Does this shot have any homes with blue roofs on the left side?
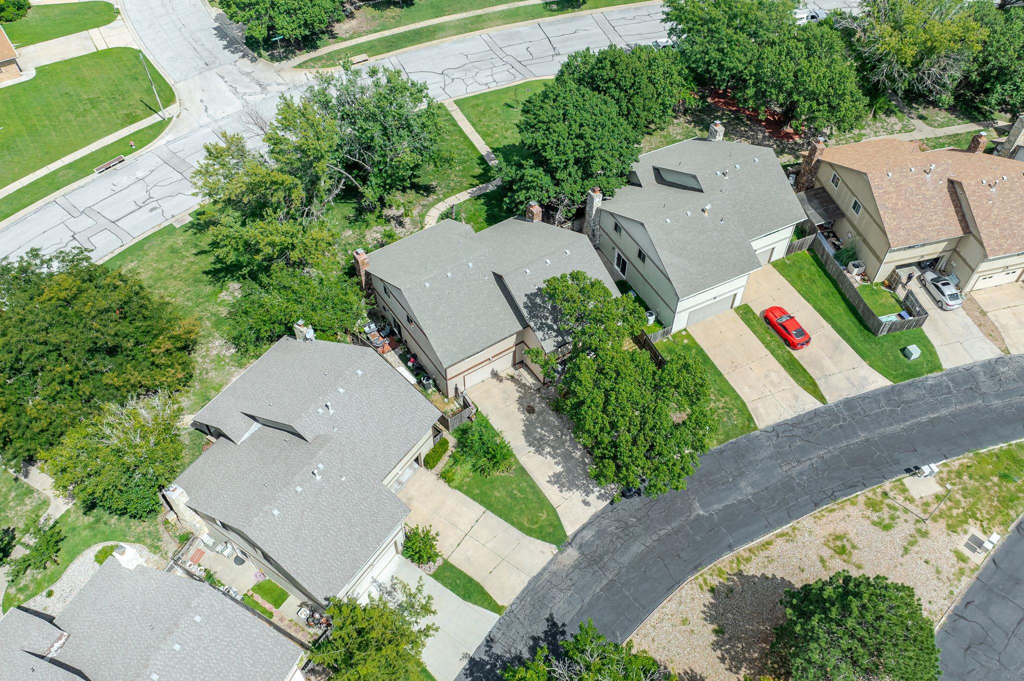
No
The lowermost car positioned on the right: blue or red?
red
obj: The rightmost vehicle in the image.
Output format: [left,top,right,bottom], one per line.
[922,270,968,311]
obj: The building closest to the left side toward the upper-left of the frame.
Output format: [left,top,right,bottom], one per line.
[0,19,41,81]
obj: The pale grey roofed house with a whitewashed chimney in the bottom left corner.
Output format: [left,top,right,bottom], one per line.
[0,537,307,681]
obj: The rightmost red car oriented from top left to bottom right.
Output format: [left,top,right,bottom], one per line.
[764,305,813,349]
